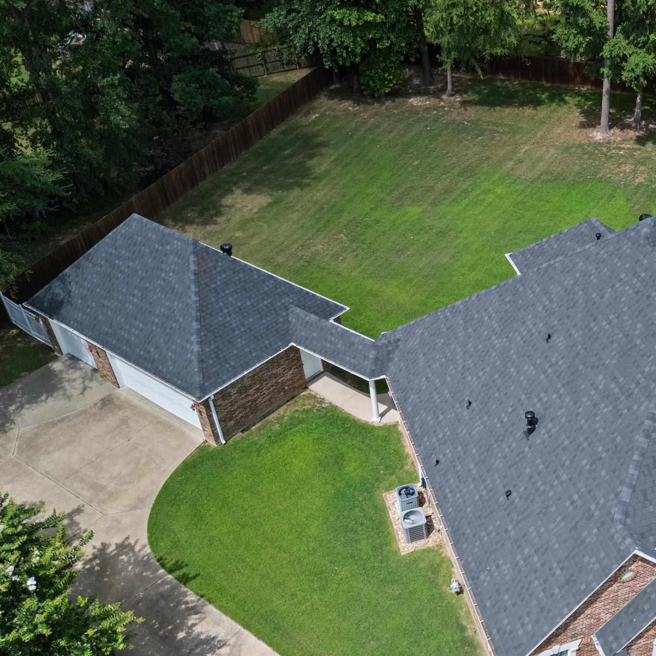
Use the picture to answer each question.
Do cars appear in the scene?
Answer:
No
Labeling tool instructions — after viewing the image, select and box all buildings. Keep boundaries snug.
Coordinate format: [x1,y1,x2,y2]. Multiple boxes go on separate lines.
[370,211,656,656]
[23,214,351,446]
